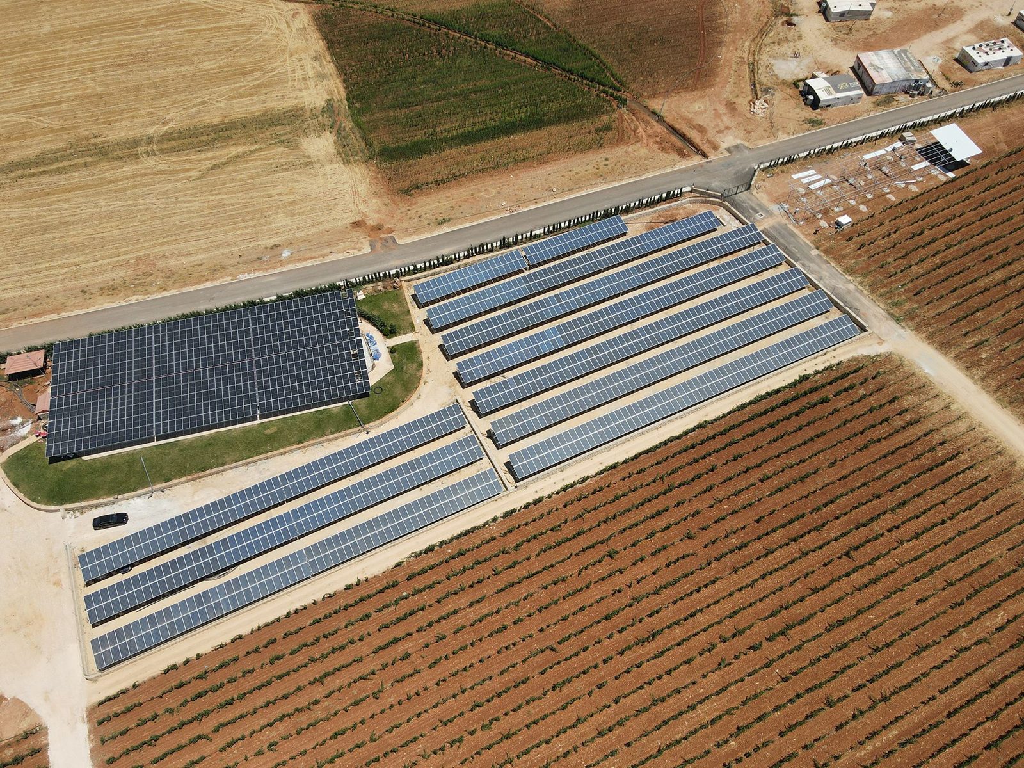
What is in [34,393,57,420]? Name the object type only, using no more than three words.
shed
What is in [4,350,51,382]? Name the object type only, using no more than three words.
gazebo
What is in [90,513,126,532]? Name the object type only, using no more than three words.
car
